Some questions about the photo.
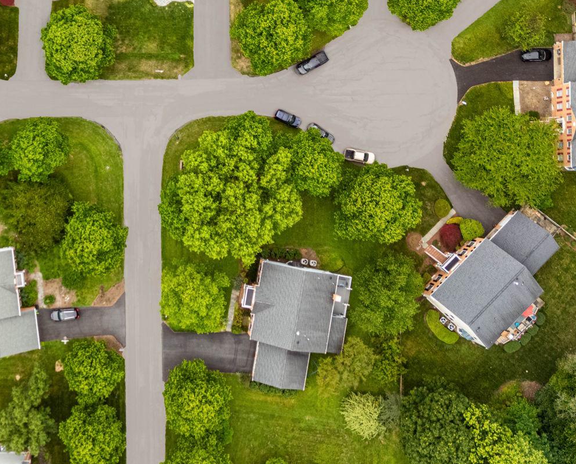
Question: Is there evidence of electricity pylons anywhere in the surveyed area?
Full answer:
No, there isn't any electricity pylon down there.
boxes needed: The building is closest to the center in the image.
[238,260,354,388]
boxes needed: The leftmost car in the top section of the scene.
[273,108,302,127]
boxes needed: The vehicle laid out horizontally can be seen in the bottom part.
[50,309,78,322]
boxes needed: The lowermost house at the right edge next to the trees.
[422,211,557,350]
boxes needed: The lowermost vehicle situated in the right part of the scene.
[344,149,377,163]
